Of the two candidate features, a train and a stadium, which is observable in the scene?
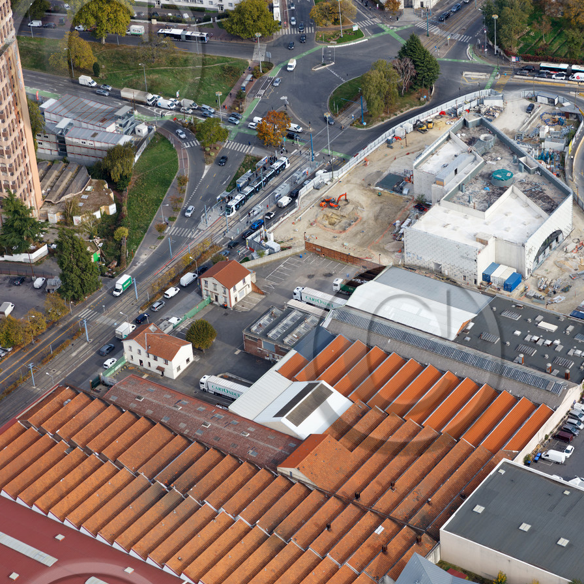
train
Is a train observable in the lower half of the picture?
No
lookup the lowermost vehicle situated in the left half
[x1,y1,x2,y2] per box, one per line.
[199,375,255,397]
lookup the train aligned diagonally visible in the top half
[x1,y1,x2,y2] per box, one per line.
[226,158,289,213]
